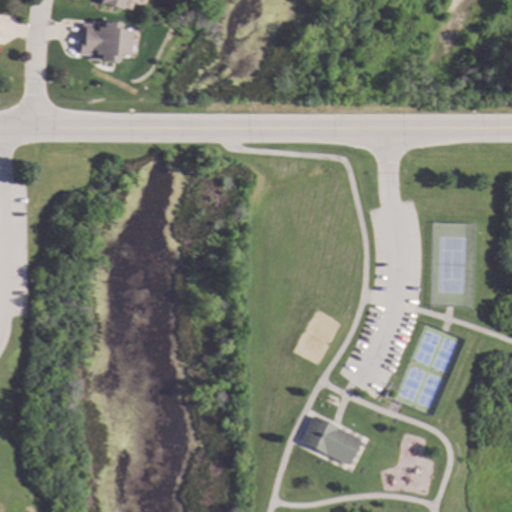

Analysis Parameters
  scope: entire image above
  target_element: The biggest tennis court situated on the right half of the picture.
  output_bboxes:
[430,223,476,307]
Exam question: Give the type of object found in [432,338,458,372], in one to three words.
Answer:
sports court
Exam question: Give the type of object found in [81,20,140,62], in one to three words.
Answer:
house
